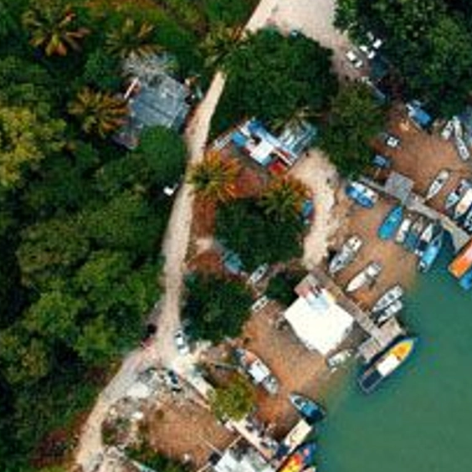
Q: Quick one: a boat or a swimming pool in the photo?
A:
boat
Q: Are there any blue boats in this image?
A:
Yes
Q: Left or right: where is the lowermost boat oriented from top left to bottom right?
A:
right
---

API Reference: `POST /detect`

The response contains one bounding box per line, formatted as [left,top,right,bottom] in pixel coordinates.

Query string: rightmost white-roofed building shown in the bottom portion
[285,275,363,356]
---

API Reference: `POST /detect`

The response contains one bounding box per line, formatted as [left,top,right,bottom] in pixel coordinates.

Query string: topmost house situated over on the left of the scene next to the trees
[122,70,198,130]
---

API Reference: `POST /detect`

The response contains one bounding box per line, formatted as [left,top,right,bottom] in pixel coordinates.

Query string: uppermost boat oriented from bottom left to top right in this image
[442,117,456,137]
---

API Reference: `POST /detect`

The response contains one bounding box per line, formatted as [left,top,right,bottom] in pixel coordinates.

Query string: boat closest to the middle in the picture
[250,267,272,282]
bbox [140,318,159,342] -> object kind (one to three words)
car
